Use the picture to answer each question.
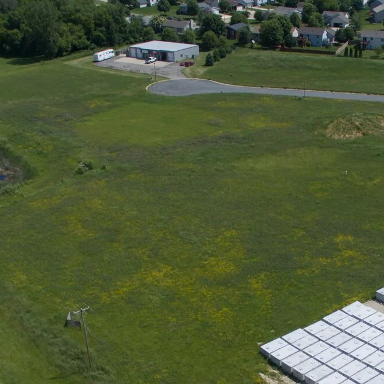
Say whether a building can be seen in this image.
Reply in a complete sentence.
Yes, there's a building down there.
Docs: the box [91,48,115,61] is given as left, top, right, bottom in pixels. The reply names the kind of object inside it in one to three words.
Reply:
vehicle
